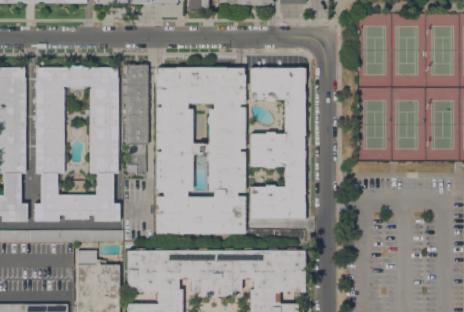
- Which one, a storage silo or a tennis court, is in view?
tennis court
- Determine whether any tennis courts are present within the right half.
Yes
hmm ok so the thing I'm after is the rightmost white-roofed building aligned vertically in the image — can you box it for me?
[250,67,308,218]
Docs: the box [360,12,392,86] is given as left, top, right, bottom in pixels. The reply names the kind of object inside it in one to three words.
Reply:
tennis court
